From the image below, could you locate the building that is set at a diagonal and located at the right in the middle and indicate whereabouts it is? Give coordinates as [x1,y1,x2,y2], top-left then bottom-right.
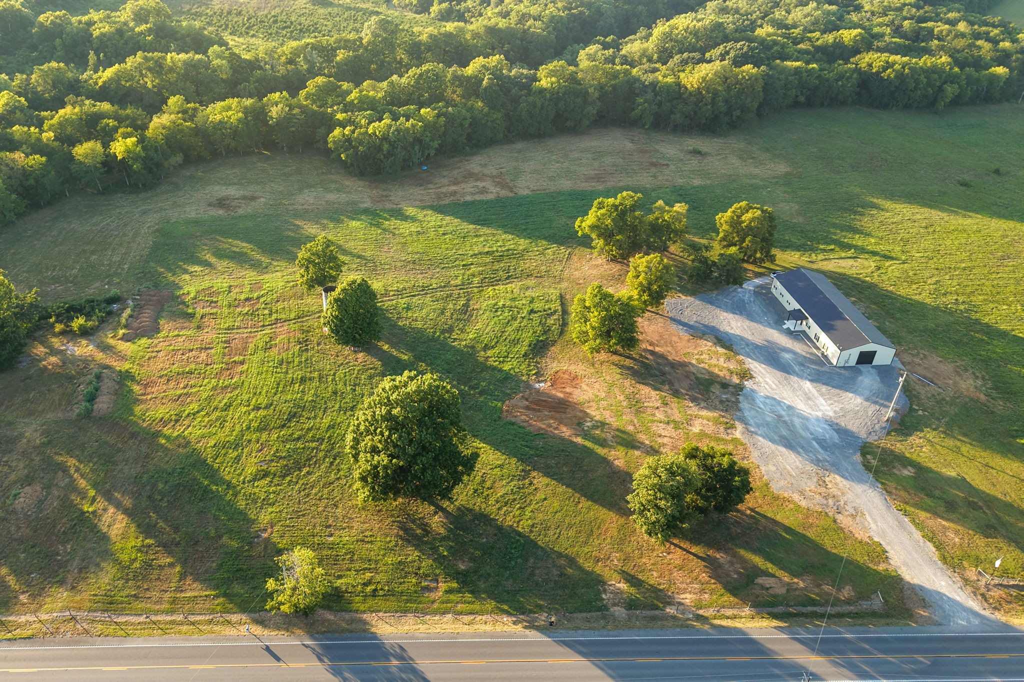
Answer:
[772,268,897,369]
